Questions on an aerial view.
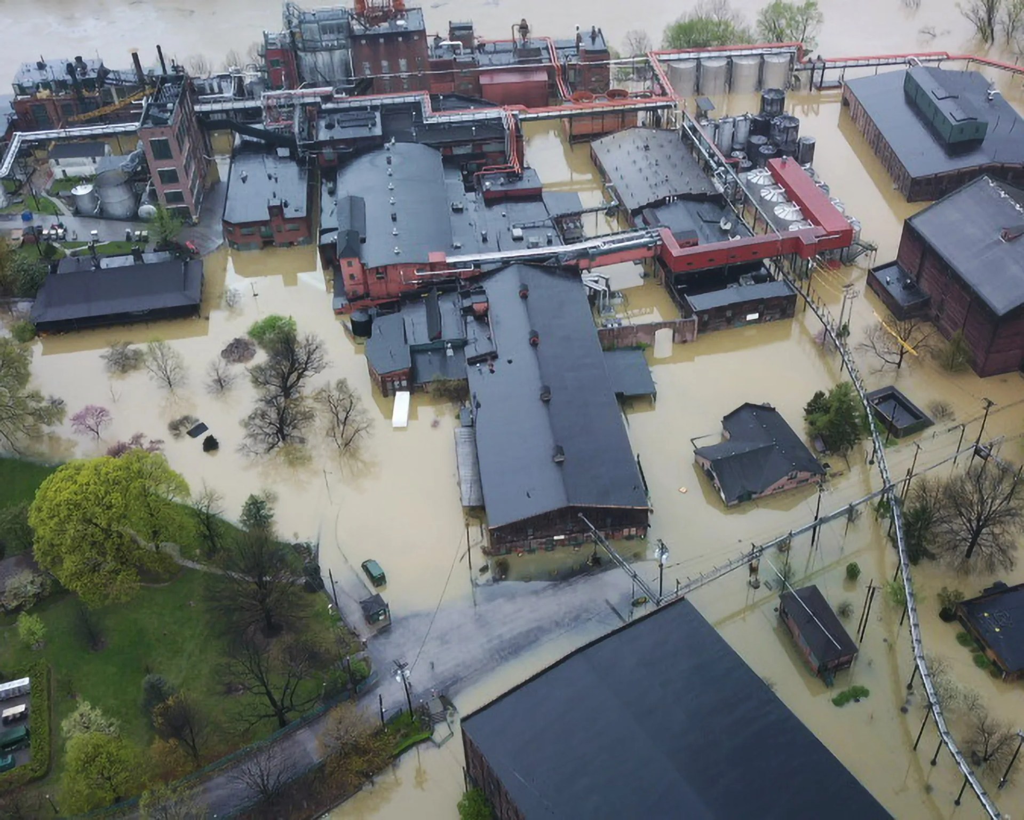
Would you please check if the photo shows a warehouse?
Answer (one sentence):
Yes, this view includes a warehouse.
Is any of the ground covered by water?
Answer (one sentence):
Yes, there's water in this view.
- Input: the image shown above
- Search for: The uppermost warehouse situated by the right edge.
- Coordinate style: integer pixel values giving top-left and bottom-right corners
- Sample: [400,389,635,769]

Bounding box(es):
[841,62,1024,202]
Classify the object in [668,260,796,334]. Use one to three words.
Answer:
building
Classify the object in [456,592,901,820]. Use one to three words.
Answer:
warehouse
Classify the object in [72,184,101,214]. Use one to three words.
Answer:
storage tank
